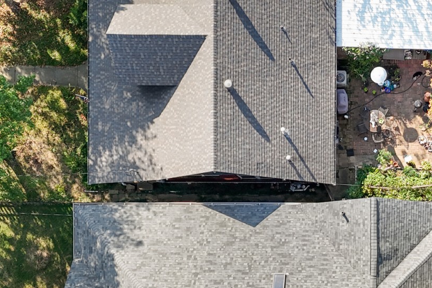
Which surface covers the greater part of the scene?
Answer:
buildings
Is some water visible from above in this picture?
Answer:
No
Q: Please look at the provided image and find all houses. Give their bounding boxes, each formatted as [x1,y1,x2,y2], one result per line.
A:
[64,195,432,288]
[86,0,339,188]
